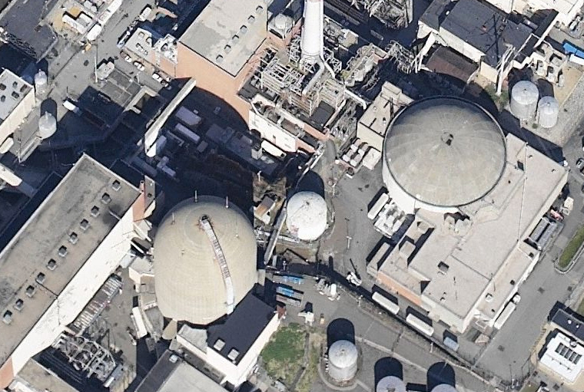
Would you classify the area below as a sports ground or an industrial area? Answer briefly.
industrial area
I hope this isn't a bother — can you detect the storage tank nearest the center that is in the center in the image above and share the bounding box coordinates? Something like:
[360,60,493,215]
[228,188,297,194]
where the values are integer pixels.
[284,194,329,245]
